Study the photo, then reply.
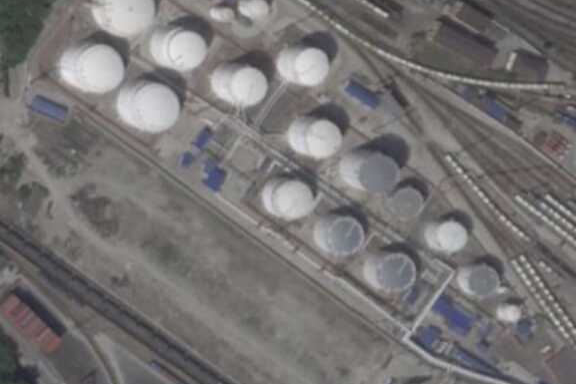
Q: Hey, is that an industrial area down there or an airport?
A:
industrial area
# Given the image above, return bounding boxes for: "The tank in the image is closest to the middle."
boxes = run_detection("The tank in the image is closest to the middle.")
[261,176,315,220]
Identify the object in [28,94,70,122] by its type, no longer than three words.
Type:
shed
